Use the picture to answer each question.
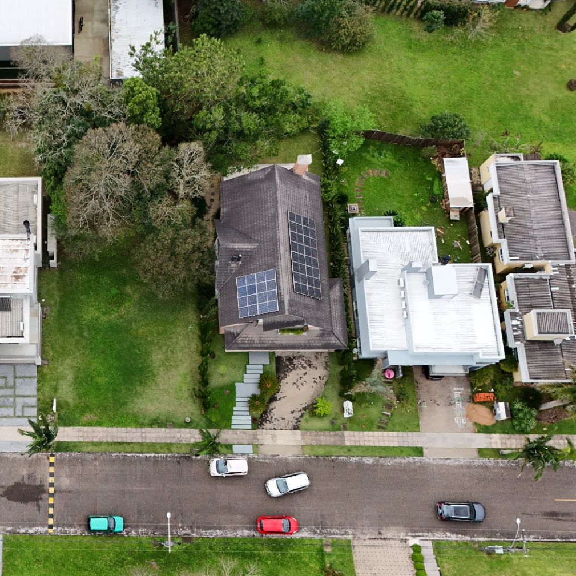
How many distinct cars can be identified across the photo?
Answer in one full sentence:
The picture shows 6 cars.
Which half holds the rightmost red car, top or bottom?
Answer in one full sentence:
Seen from above, the rightmost red car lies in the bottom half of the view.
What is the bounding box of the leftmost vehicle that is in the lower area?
[87,515,124,535]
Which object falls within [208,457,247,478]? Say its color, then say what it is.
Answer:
white car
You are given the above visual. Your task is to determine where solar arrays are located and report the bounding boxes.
[287,211,321,300]
[236,269,279,318]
